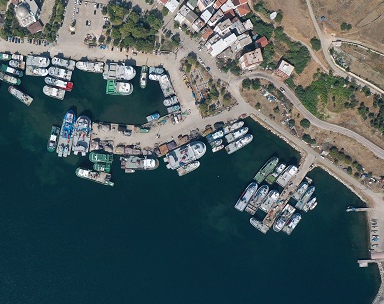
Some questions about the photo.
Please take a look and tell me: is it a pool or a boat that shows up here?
boat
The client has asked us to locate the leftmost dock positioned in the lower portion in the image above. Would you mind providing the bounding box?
[261,164,312,230]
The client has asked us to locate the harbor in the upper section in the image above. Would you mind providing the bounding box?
[0,41,253,158]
